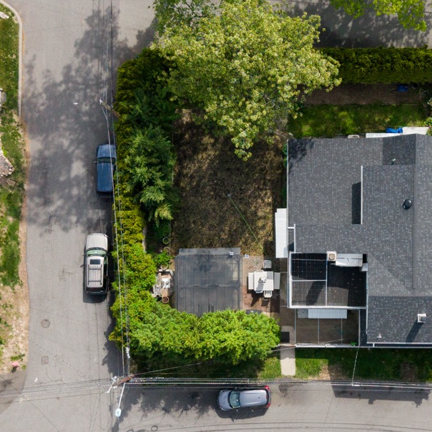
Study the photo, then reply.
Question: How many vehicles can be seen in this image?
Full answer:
Altogether the scene contains 3 vehicles.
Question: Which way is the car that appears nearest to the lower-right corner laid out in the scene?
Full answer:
In this picture, the car that appears nearest to the lower-right corner lies from side to side.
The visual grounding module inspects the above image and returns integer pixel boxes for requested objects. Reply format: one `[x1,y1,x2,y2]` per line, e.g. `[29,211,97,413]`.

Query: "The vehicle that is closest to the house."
[218,384,273,413]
